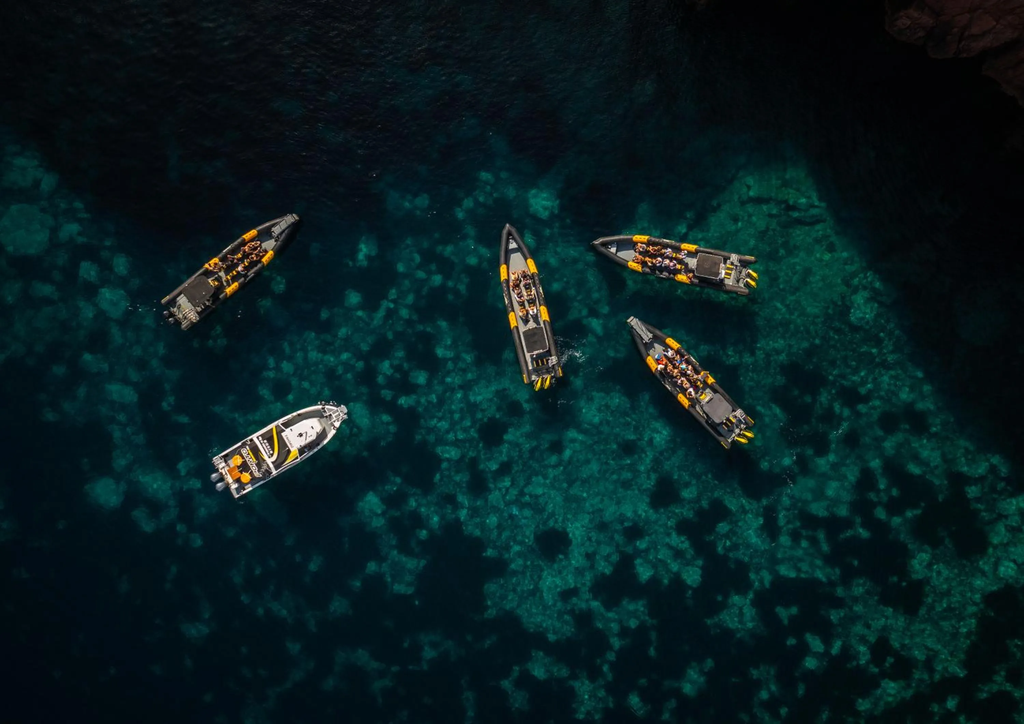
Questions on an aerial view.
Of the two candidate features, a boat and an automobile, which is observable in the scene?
boat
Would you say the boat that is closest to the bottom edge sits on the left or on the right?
left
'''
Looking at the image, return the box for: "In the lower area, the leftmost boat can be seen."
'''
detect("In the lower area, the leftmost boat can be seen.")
[212,401,350,497]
